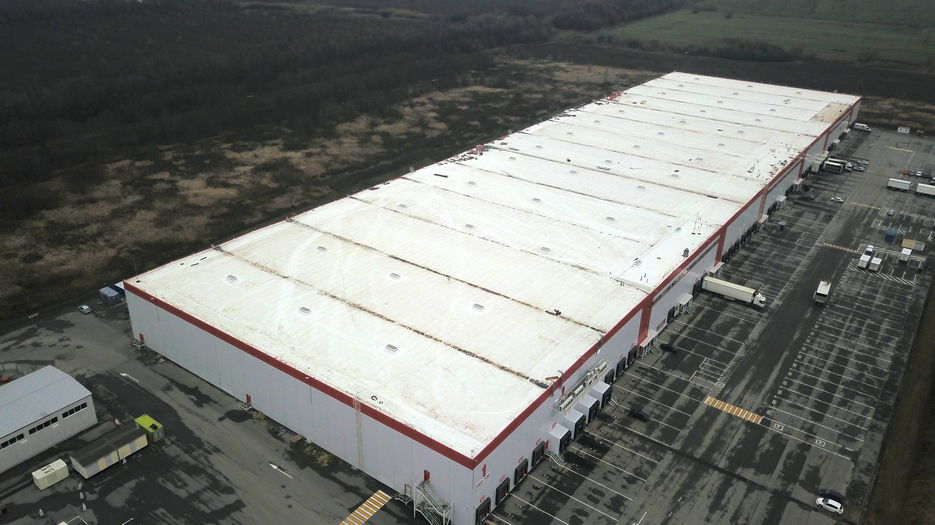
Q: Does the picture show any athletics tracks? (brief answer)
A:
No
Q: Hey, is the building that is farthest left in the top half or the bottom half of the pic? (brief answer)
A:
bottom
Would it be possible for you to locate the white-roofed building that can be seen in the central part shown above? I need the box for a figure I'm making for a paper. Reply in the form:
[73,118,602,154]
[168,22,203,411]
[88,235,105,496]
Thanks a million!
[121,72,864,525]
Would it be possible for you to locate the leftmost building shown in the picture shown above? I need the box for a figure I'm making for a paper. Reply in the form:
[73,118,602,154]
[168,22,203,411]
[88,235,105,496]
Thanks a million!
[0,364,99,473]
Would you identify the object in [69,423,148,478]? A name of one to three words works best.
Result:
building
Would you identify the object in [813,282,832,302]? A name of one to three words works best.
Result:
vehicle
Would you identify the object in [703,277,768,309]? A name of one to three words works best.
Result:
truck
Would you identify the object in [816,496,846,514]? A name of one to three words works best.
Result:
car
